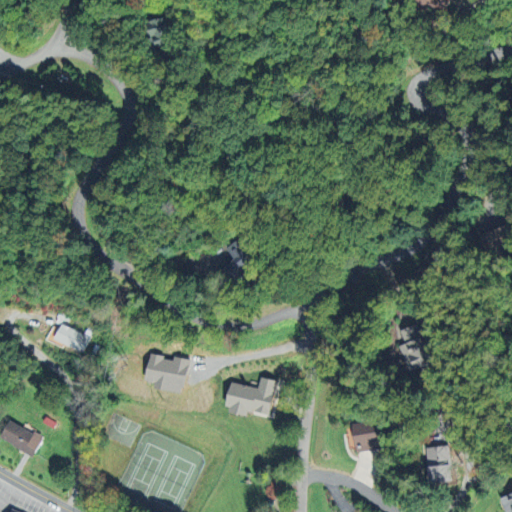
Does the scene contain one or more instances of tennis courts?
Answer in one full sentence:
Yes, a tennis court is visible in the scene.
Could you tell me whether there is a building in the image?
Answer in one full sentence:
Yes, you can see a building in this photo.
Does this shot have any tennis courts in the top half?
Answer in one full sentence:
No, looking in the top half, there is no tennis court.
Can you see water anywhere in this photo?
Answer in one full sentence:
No, water can't be seen anywhere here.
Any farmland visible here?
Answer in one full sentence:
No, no farmland is visible.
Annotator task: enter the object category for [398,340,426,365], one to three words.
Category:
house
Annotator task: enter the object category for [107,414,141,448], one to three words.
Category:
basketball court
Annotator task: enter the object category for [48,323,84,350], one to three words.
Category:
house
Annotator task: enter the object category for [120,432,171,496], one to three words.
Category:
tennis court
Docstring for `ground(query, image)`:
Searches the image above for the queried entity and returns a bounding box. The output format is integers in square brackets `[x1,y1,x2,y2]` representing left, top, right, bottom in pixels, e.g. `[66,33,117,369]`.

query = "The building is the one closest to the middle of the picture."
[226,242,248,272]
